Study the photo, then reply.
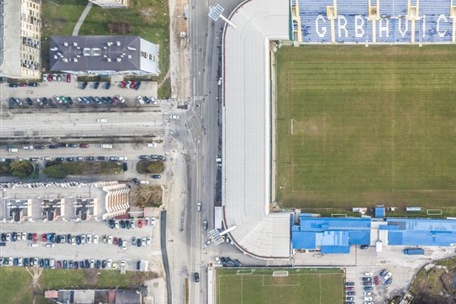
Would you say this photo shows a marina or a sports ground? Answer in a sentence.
This looks like a sports ground.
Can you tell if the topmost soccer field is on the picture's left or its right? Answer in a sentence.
The topmost soccer field appears in the right half of the scene.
